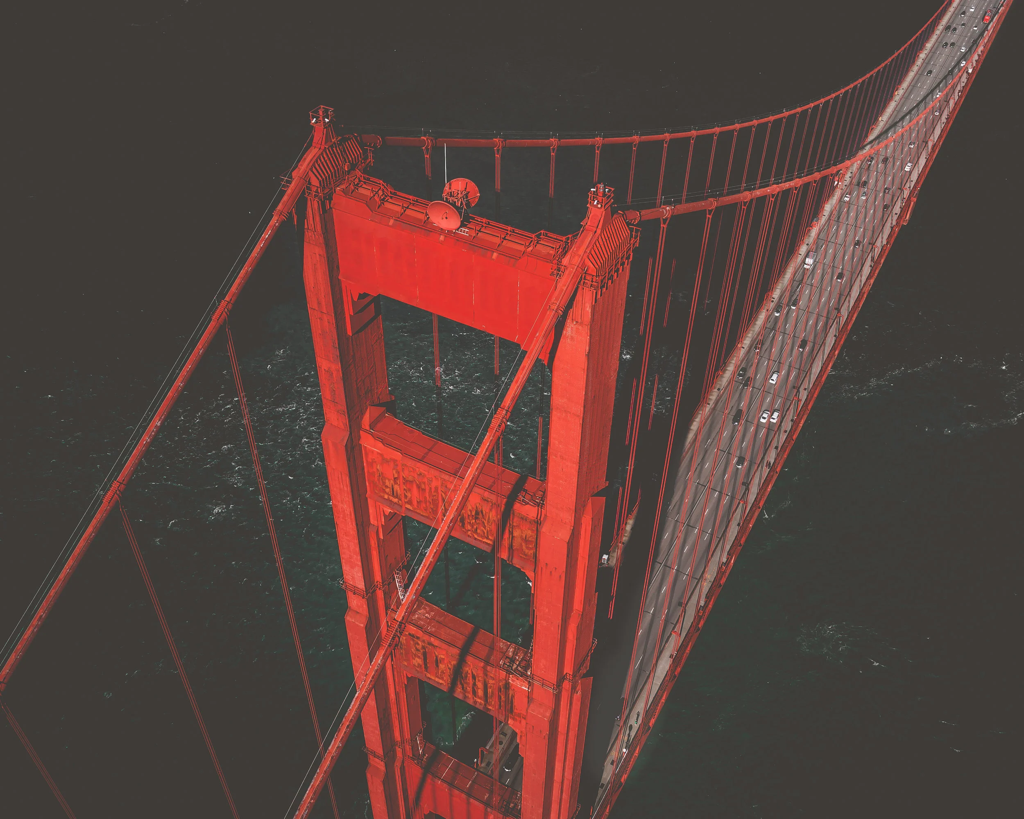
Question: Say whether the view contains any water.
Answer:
Yes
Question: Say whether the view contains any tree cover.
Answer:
No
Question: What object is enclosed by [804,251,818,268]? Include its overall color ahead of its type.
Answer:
white vehicle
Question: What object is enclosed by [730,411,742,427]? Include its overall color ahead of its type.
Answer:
black vehicle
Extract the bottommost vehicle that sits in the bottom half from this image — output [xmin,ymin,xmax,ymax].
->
[503,745,521,771]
